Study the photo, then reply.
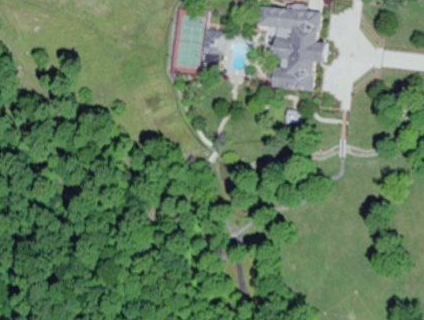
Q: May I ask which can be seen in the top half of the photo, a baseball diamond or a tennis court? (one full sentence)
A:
Visible in the top half of the photo is a tennis court.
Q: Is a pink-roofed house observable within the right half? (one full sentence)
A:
No, there is no pink-roofed house within the right half.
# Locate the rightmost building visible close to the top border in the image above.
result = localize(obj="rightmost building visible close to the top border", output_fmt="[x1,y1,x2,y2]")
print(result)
[258,3,334,92]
